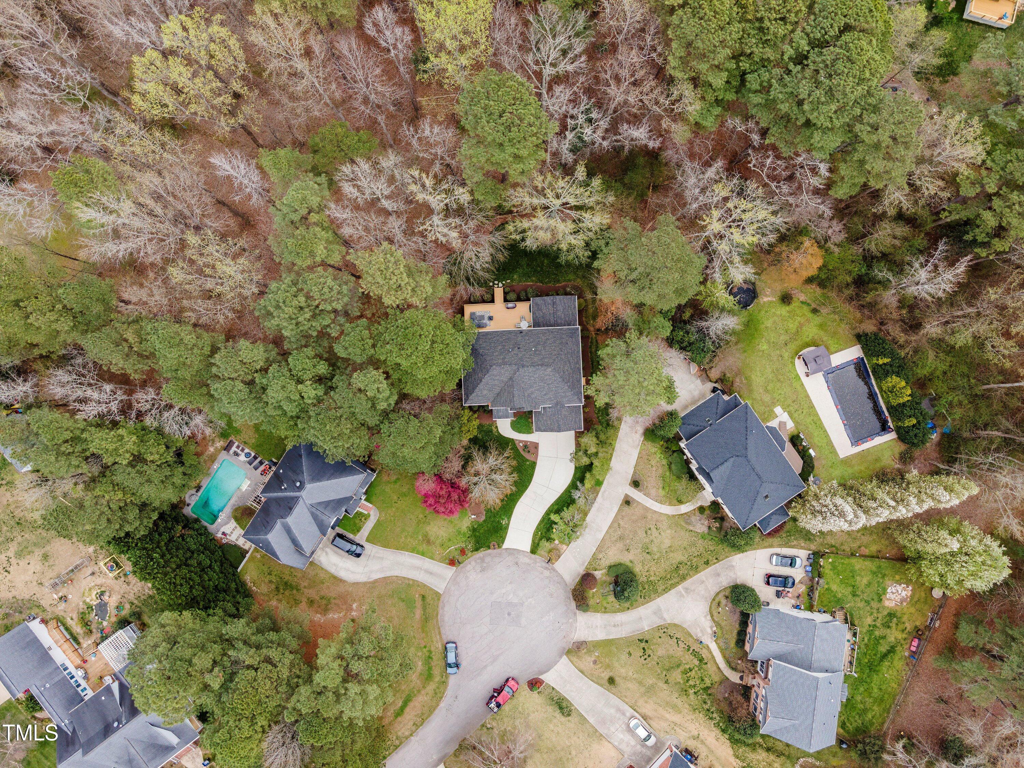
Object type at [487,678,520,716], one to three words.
truck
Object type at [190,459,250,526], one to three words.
swimming pool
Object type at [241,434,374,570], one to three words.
house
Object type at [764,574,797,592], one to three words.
car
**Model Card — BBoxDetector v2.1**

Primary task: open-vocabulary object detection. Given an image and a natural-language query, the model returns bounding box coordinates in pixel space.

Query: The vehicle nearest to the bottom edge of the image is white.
[626,717,655,748]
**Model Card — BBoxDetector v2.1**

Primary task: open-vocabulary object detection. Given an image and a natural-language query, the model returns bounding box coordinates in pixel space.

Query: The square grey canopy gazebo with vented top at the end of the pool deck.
[796,346,832,375]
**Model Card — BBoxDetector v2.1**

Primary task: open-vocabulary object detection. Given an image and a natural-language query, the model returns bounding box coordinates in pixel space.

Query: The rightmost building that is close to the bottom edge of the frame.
[738,599,852,753]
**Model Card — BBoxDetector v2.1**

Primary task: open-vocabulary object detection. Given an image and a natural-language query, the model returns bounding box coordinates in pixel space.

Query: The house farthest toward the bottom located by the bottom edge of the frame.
[638,734,701,768]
